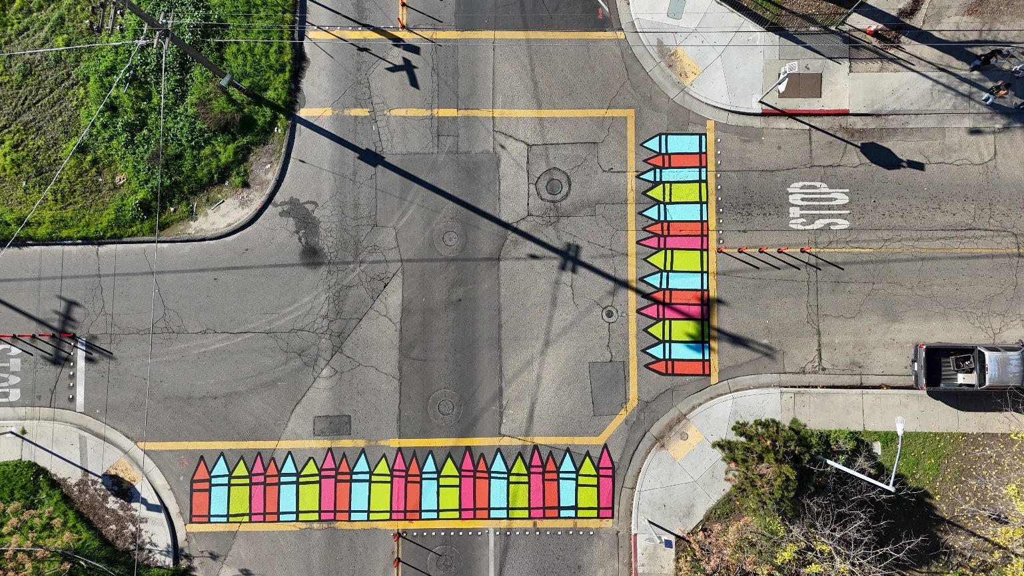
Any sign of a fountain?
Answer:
No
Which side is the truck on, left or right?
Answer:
right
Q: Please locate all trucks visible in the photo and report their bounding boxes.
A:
[905,338,1024,398]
